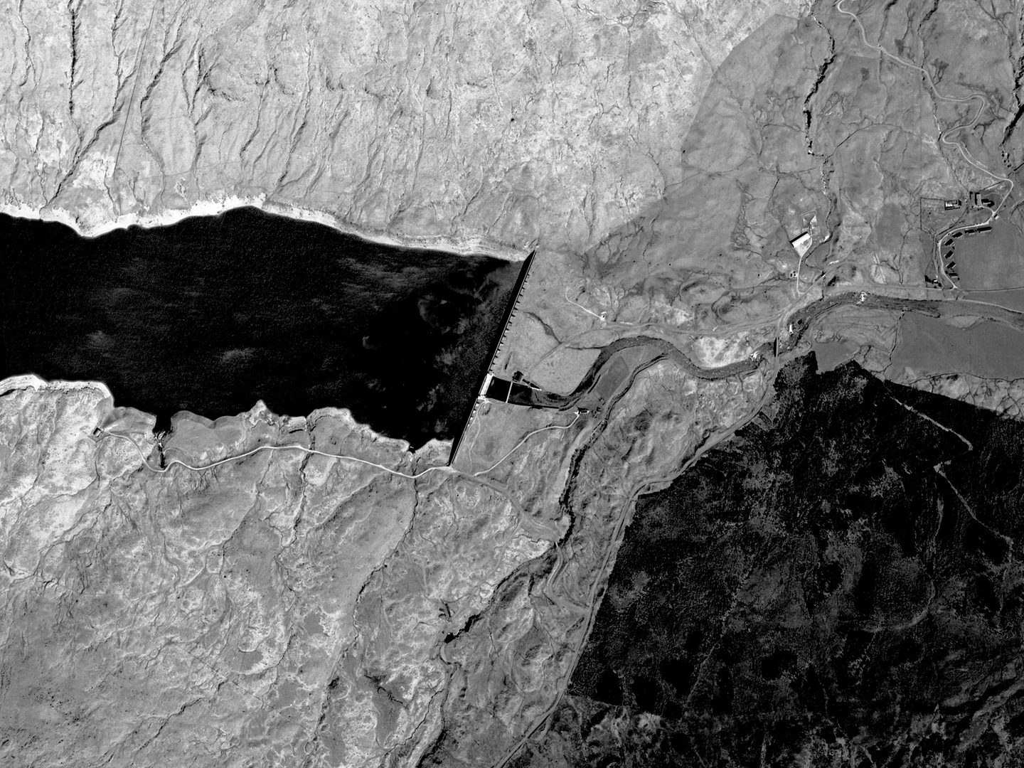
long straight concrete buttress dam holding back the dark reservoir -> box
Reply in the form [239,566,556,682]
[450,250,536,466]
